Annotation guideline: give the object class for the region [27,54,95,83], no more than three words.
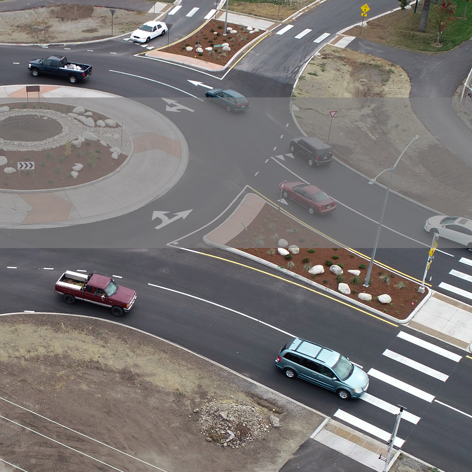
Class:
truck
